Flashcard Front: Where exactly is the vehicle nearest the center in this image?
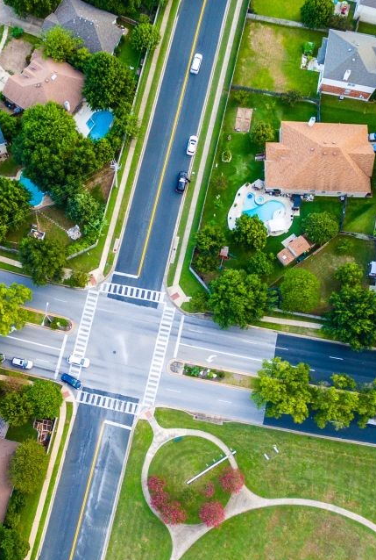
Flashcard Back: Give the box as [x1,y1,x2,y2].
[176,170,190,195]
